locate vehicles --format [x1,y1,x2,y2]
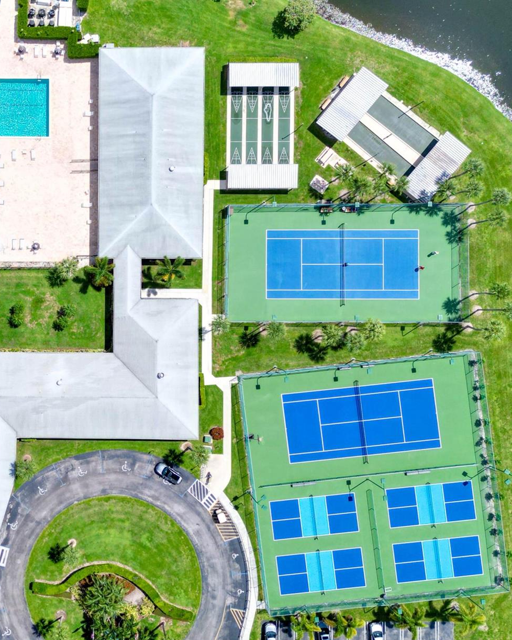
[153,463,184,485]
[317,620,330,640]
[263,621,277,640]
[369,621,384,640]
[215,508,227,526]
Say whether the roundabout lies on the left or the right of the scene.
left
